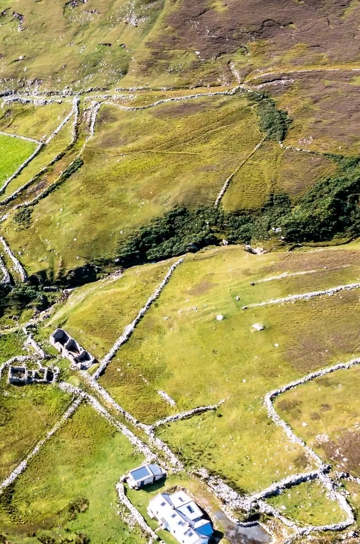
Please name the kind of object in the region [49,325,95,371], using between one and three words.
house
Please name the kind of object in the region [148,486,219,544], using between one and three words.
house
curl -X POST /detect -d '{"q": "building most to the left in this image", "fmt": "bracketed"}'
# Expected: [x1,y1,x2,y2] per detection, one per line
[8,364,57,383]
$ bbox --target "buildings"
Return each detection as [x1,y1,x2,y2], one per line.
[8,364,57,383]
[49,325,95,371]
[148,486,219,544]
[130,465,165,488]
